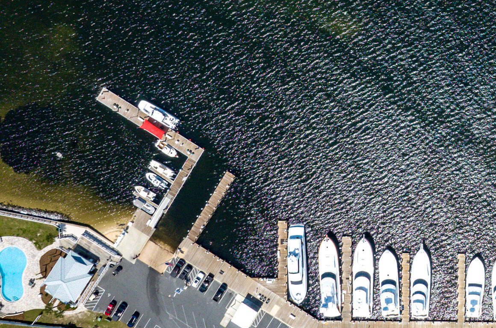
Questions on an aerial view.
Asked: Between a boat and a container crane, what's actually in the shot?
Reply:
boat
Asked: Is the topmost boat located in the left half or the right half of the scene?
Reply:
left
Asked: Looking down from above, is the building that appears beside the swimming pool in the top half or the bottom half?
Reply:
bottom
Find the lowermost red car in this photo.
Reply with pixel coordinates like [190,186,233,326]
[105,300,118,317]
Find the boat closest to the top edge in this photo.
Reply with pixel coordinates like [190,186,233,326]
[141,103,180,128]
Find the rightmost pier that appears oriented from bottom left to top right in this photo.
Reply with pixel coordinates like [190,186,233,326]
[187,171,238,245]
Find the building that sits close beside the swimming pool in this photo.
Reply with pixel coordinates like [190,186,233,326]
[40,251,99,302]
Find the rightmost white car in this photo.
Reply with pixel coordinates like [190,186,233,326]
[192,271,206,288]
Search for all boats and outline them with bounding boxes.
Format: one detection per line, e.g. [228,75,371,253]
[141,103,180,128]
[466,256,486,318]
[320,234,343,319]
[129,197,156,215]
[146,173,170,190]
[380,250,401,318]
[157,141,179,158]
[353,235,375,319]
[151,161,179,179]
[135,187,158,201]
[287,225,307,303]
[411,245,431,321]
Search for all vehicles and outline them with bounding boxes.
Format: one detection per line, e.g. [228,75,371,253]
[111,267,123,278]
[213,283,228,303]
[192,271,206,288]
[200,274,215,292]
[113,302,127,322]
[179,262,194,282]
[128,311,141,328]
[171,259,186,278]
[105,300,118,317]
